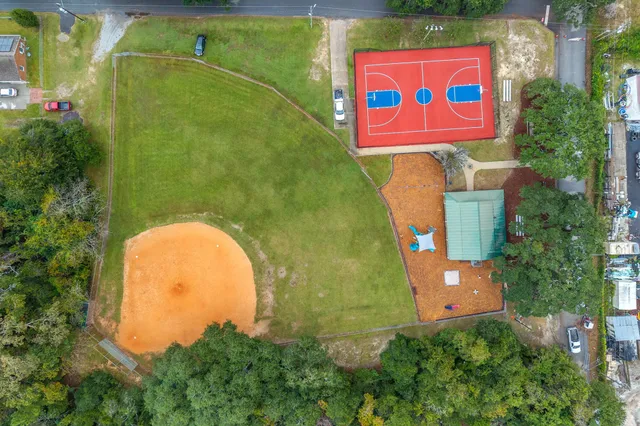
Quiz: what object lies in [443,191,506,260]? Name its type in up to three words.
building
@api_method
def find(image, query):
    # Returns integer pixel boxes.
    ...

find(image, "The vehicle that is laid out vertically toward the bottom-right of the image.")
[564,326,581,355]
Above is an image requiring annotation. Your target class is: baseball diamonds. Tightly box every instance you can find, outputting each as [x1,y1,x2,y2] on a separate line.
[92,57,419,369]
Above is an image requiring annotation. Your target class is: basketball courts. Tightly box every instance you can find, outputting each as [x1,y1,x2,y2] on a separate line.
[355,46,496,147]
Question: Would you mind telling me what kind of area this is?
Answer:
sports ground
